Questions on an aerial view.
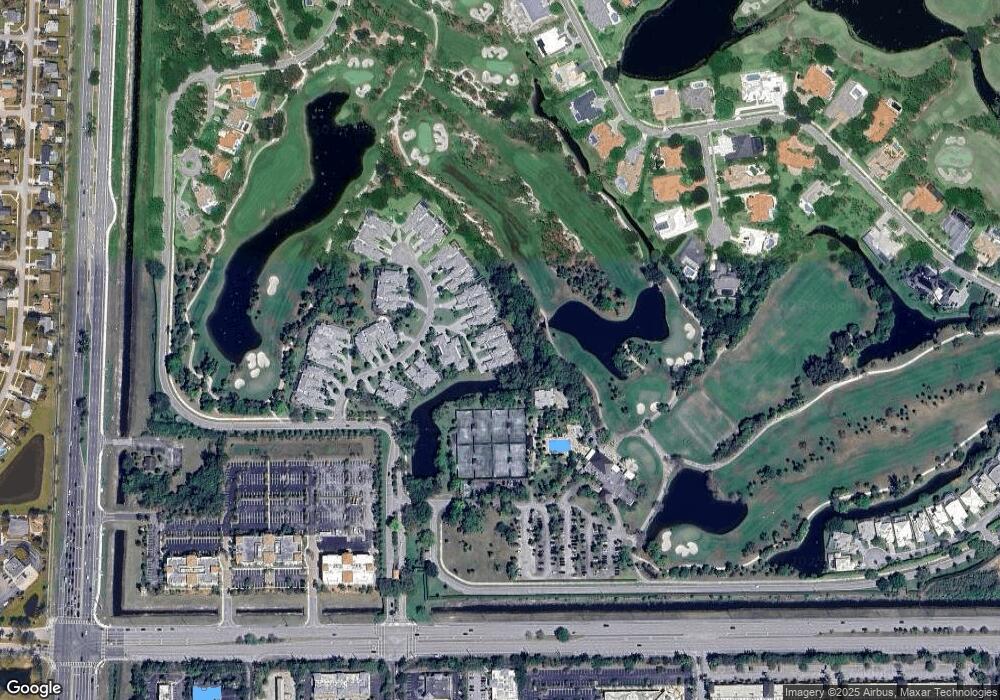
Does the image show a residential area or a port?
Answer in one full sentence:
It's a residential area.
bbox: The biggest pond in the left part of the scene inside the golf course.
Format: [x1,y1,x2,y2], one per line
[206,93,376,361]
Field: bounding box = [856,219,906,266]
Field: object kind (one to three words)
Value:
house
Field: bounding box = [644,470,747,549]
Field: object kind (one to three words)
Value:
pond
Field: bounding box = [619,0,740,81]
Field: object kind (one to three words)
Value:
pond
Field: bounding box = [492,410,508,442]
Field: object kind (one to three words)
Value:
tennis court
